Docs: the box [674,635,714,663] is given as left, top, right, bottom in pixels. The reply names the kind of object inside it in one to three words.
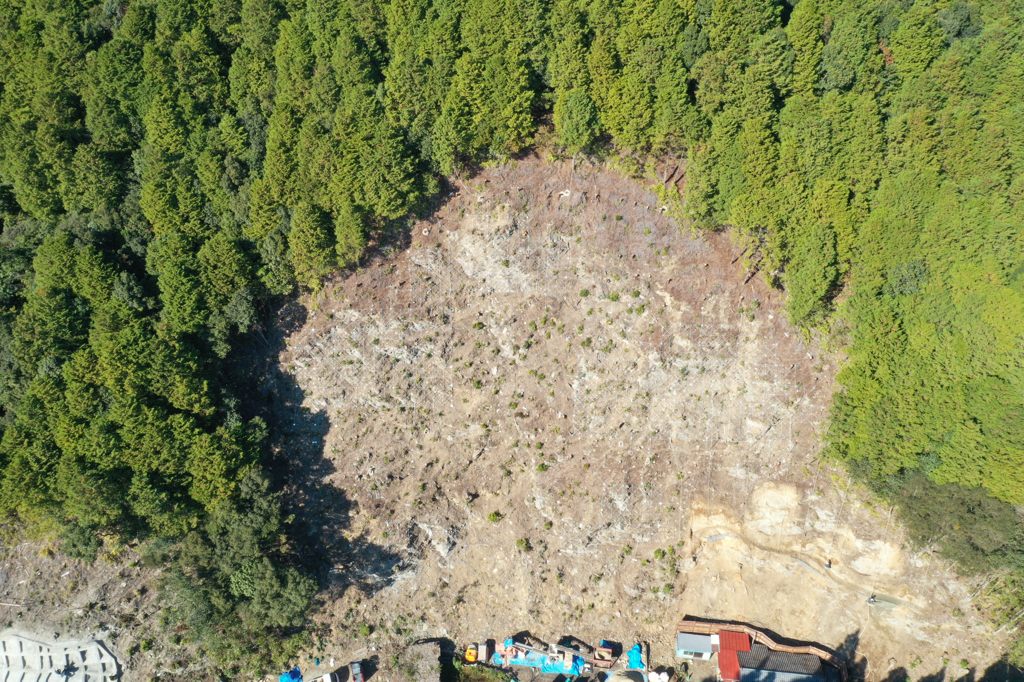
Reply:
shed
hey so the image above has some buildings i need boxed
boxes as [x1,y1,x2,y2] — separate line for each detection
[674,635,714,663]
[713,631,840,682]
